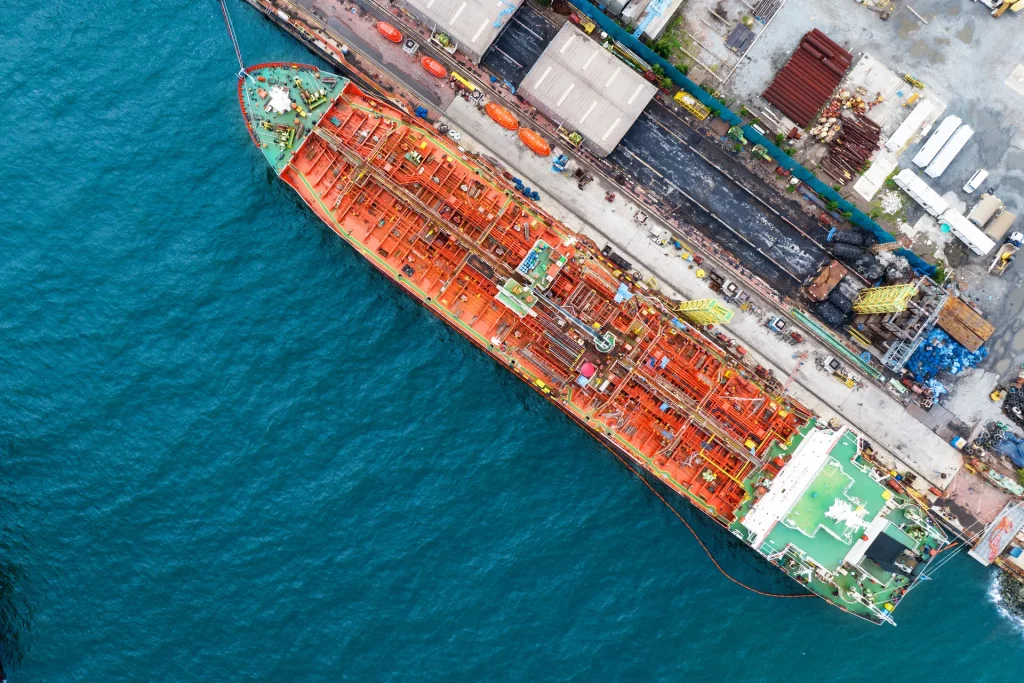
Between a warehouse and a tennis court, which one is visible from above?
warehouse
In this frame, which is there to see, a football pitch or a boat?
boat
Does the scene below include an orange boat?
Yes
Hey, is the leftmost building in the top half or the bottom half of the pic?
top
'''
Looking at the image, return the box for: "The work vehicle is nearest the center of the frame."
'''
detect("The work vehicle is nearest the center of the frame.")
[632,208,648,226]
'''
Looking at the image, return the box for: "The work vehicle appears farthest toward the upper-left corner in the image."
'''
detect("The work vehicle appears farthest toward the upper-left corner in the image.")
[401,37,420,57]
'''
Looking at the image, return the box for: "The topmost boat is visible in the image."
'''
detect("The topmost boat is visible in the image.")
[375,22,403,44]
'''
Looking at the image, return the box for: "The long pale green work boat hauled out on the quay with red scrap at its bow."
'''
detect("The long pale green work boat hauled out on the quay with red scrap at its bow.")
[968,459,1024,506]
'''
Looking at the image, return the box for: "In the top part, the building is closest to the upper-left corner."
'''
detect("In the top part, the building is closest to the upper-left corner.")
[389,0,526,68]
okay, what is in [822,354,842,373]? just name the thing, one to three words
work vehicle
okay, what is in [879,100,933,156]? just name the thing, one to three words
trailer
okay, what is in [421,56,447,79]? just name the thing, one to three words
boat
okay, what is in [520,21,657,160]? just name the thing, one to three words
warehouse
